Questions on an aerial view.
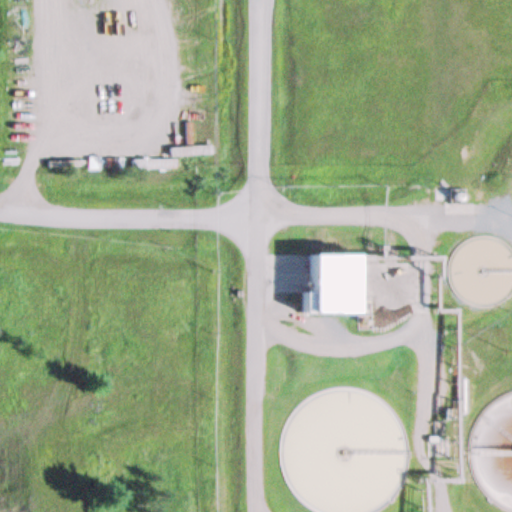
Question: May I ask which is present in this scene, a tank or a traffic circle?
tank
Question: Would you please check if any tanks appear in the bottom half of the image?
Yes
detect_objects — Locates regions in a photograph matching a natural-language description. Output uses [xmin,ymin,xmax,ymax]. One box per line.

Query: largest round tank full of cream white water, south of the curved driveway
[281,386,408,512]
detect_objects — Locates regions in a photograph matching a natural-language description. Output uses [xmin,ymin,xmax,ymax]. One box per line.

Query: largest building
[302,253,366,318]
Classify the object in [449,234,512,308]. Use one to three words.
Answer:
storage tank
